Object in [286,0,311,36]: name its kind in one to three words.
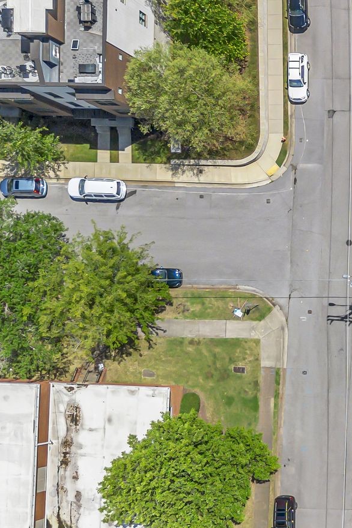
truck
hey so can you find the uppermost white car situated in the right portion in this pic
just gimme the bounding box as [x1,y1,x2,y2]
[285,52,311,103]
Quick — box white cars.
[285,52,311,103]
[70,176,127,202]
